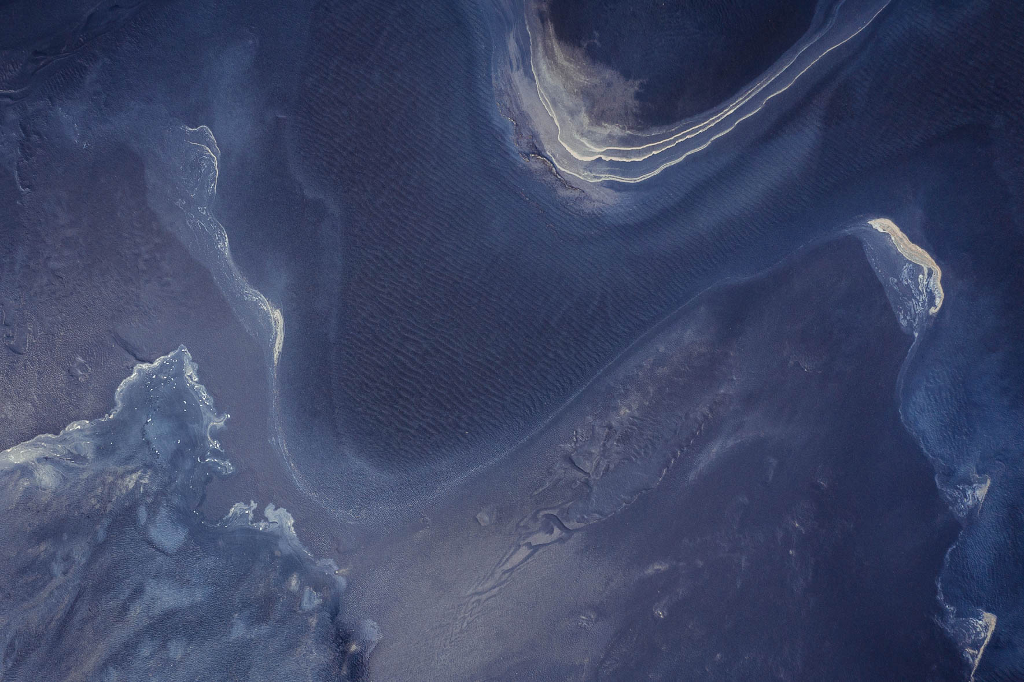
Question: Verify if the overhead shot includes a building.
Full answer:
No, there isn't any building down there.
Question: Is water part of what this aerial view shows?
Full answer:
Yes, some water is visible.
